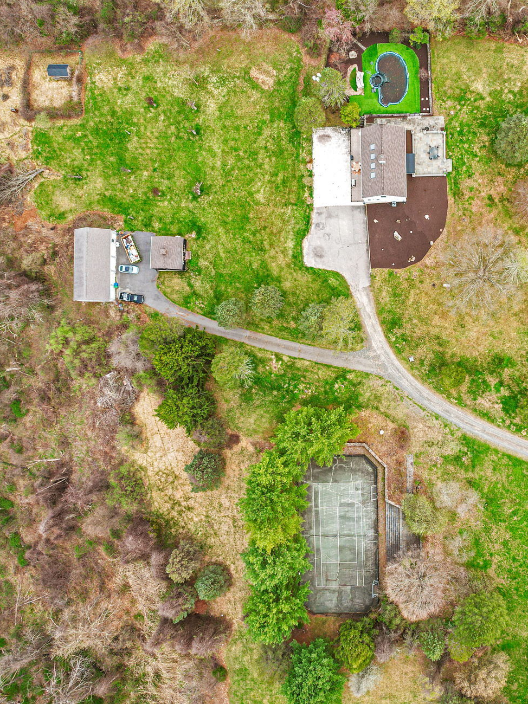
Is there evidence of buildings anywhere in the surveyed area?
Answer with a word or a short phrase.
Yes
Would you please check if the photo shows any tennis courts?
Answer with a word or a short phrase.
Yes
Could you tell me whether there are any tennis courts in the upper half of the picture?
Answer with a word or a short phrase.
No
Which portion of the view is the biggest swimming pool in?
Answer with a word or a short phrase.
top right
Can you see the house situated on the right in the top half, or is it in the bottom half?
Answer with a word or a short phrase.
top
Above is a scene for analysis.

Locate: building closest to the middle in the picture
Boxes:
[151,235,188,271]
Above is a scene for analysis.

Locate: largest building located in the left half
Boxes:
[74,226,116,300]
